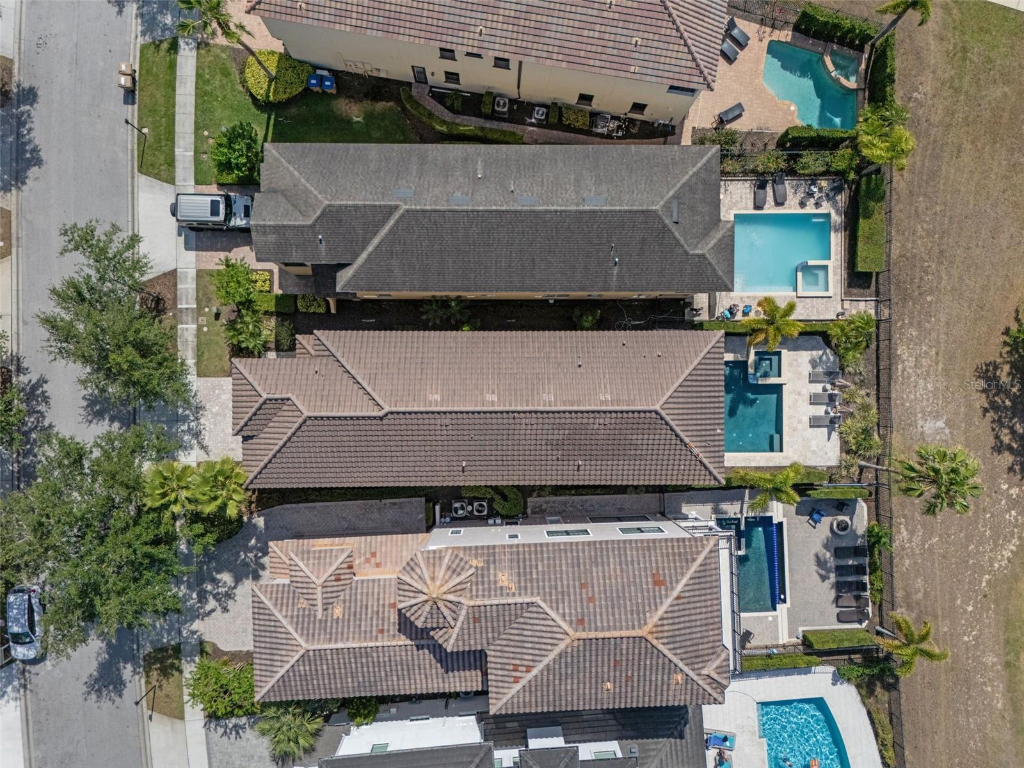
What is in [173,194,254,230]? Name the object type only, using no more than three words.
car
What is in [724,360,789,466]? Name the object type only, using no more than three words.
swimming pool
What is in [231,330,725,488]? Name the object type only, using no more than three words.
house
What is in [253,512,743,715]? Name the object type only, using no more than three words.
house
